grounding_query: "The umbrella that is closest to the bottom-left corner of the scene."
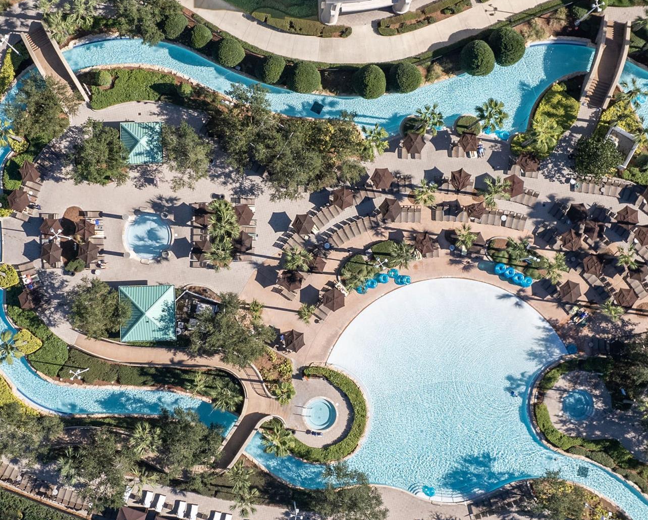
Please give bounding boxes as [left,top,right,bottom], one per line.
[16,288,40,312]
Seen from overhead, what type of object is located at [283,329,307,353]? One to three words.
umbrella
